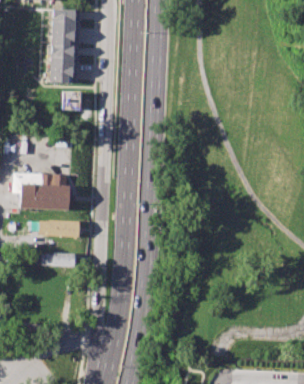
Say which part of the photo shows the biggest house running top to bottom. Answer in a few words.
top left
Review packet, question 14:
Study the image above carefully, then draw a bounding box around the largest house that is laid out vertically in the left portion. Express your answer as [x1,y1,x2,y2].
[50,8,76,82]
